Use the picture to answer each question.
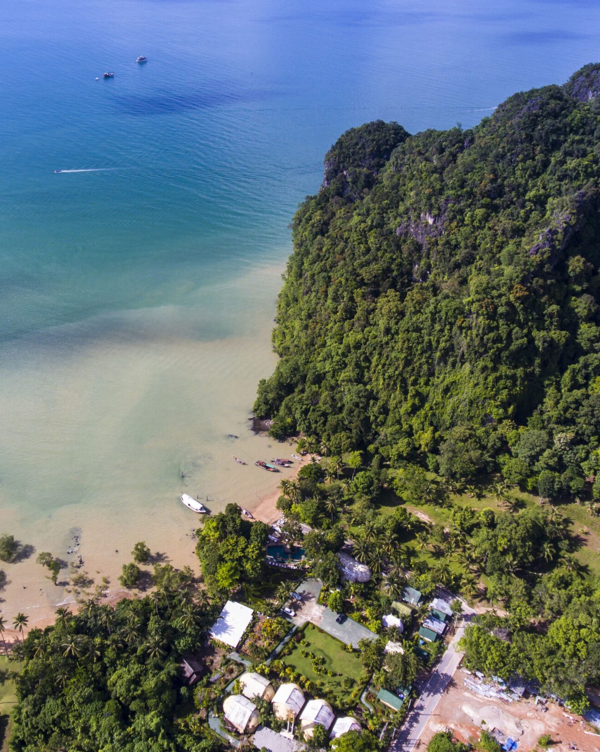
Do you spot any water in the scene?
Yes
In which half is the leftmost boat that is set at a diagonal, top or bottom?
bottom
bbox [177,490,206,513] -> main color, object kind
white boat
